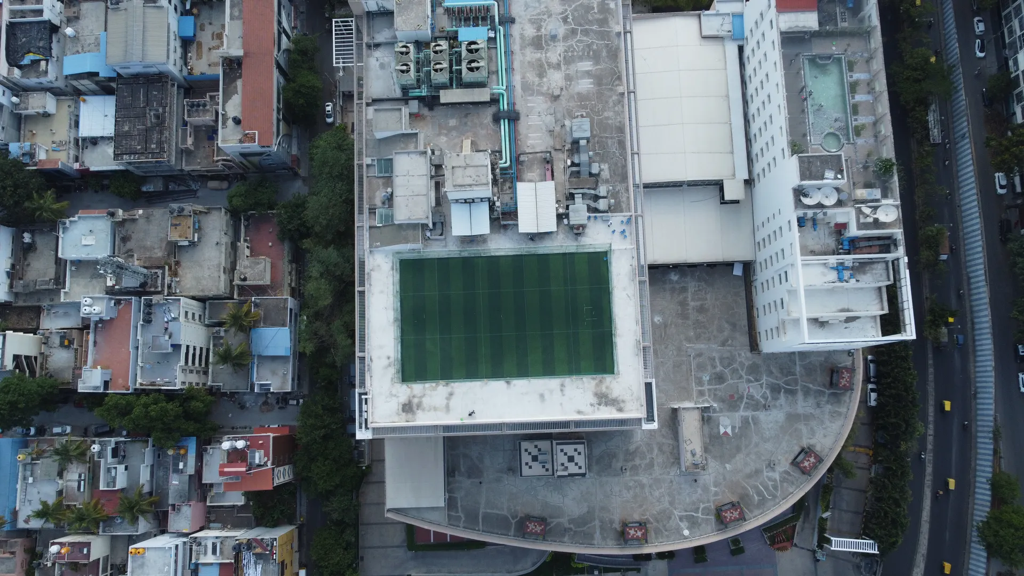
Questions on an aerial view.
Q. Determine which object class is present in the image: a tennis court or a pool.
pool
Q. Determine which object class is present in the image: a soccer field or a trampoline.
soccer field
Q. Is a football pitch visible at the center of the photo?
Yes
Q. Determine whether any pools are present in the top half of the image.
Yes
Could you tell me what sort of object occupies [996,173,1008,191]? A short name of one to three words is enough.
vehicle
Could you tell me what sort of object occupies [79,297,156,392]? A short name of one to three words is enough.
house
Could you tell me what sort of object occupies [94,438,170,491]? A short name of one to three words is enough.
house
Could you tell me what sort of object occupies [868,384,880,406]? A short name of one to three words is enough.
vehicle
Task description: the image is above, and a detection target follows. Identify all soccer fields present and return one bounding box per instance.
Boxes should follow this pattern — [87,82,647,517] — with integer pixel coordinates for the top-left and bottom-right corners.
[400,251,615,382]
